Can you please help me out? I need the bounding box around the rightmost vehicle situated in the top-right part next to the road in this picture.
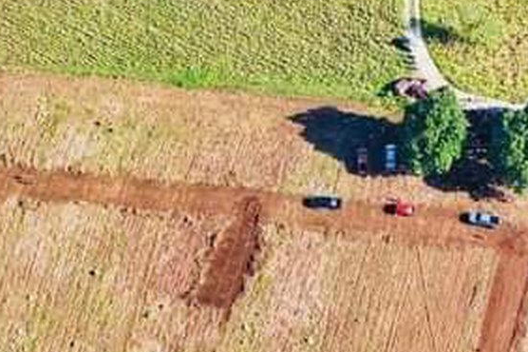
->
[395,80,429,98]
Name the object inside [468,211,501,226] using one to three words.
vehicle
